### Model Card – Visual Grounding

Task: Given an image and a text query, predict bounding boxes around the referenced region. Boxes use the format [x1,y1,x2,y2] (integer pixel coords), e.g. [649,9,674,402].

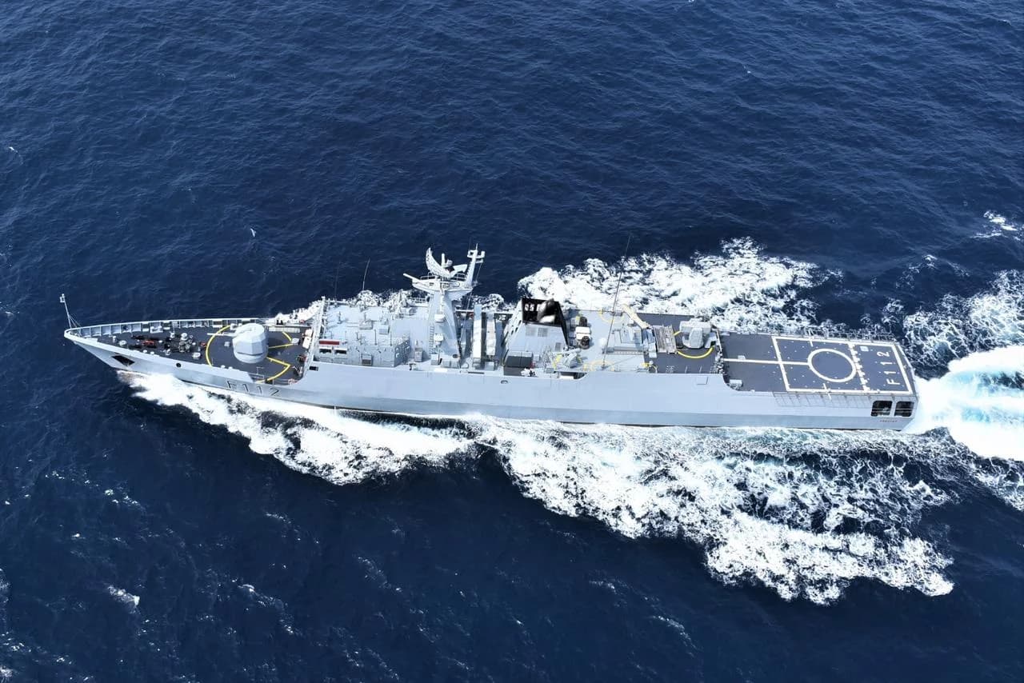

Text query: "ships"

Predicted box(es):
[60,234,918,428]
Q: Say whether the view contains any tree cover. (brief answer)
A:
No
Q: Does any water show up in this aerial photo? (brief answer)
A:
Yes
